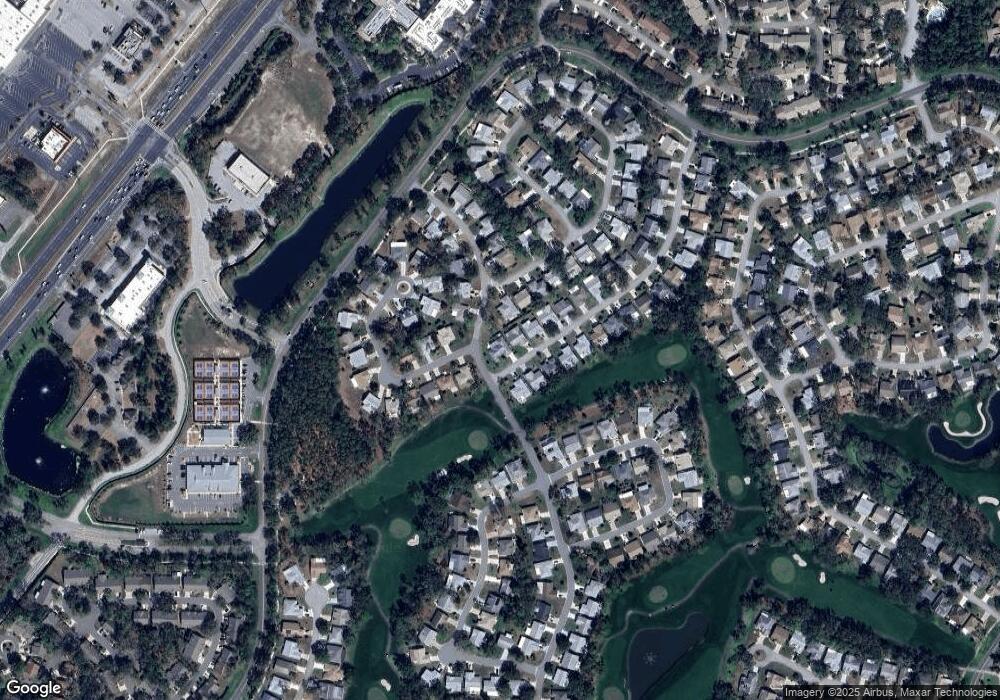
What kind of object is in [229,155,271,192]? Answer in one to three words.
building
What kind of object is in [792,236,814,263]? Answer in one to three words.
house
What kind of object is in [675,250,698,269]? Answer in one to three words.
house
